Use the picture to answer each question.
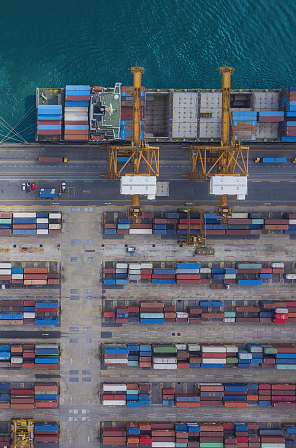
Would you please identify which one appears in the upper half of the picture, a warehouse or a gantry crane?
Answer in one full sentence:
It is a gantry crane that can be seen in the upper half of the picture.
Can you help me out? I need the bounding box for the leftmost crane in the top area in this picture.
[99,67,163,223]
